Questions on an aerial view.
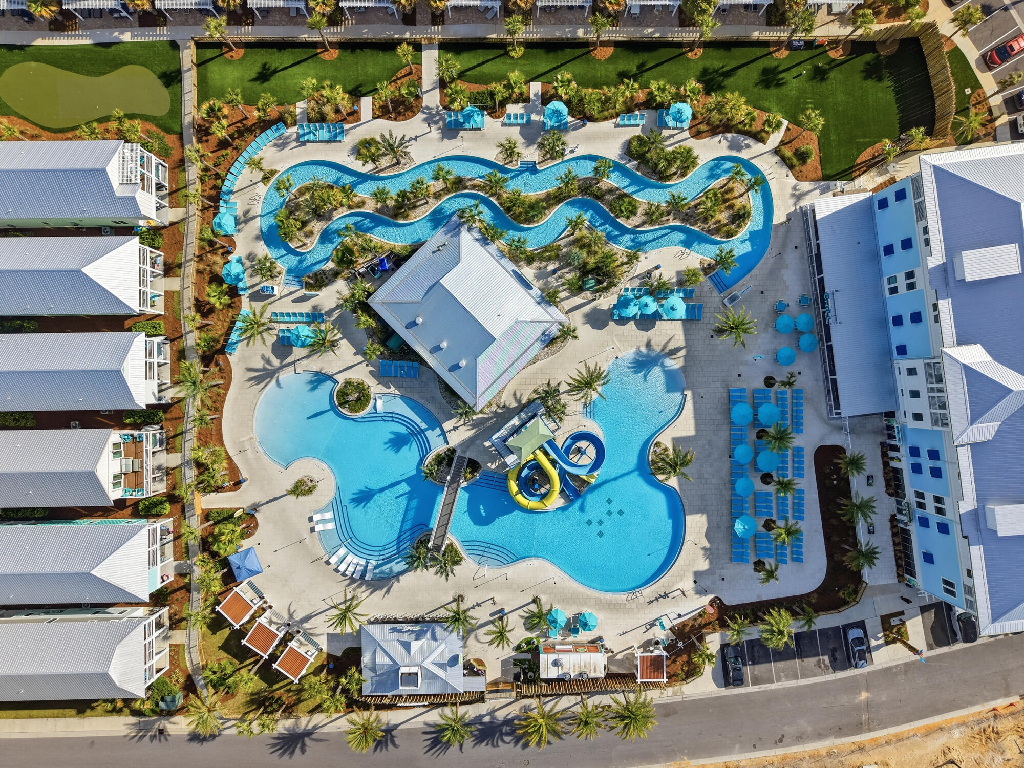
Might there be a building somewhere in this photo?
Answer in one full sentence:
Yes, there is a building in the image.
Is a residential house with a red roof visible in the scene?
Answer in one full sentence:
No, there appears to be no residential house with a red roof in this shot.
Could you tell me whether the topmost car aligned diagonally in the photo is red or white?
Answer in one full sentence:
The color of the topmost car aligned diagonally is red.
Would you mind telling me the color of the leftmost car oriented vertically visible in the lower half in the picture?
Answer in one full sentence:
In this view, the leftmost car oriented vertically visible in the lower half is black.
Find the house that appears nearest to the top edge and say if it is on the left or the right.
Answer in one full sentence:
You can find the house that appears nearest to the top edge on the left side of the picture.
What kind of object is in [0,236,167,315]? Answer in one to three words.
house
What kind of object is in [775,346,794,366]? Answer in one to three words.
umbrella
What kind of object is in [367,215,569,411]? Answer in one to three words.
building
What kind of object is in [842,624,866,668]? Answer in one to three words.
car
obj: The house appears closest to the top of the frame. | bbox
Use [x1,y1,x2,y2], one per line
[0,141,171,226]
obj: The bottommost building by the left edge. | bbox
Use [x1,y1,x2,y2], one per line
[0,608,172,699]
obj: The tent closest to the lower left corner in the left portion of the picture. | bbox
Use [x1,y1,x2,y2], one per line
[228,542,271,582]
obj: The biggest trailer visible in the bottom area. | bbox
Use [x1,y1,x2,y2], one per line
[539,645,604,680]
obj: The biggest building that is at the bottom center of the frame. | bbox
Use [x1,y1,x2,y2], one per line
[360,616,486,696]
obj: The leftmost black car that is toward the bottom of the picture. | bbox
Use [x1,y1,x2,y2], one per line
[721,642,742,686]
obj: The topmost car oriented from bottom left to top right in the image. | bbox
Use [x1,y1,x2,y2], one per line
[988,32,1024,66]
